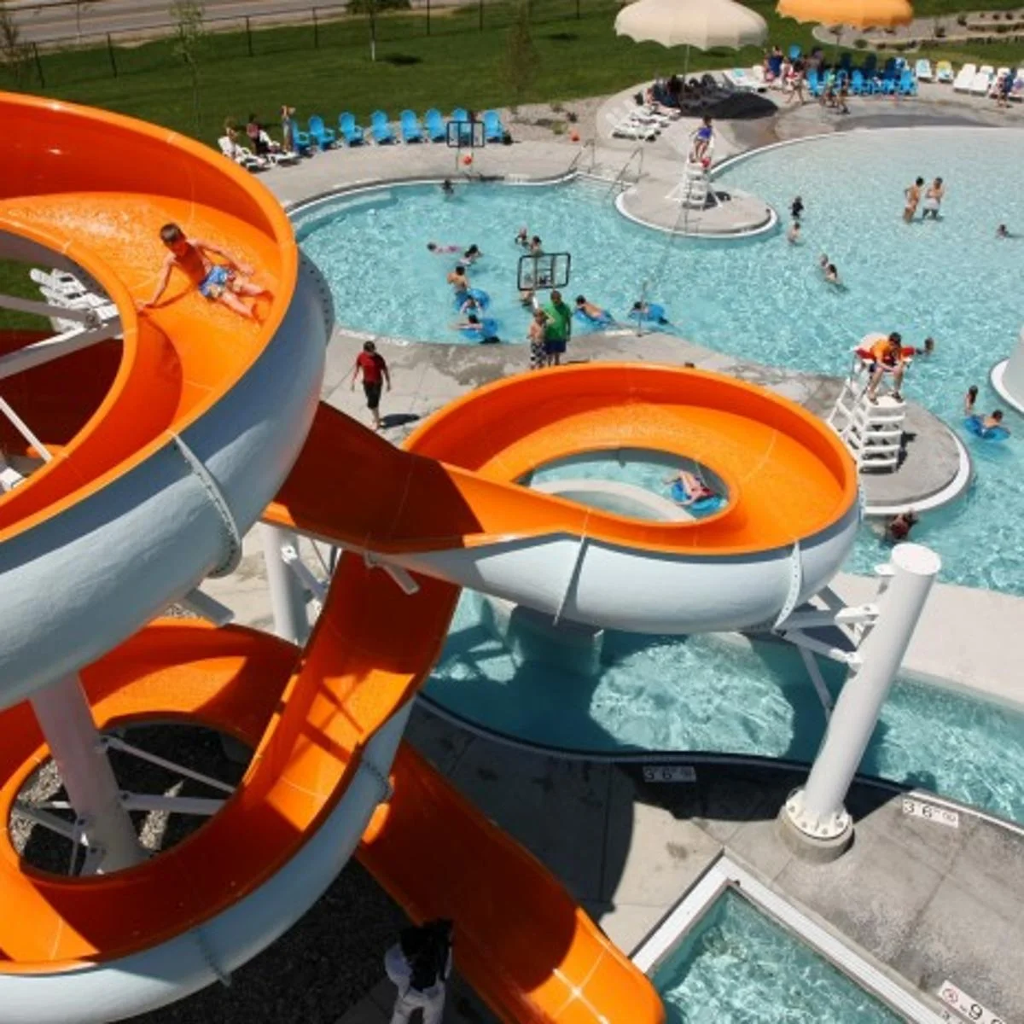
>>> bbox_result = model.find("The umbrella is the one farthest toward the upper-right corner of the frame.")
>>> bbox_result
[778,0,921,63]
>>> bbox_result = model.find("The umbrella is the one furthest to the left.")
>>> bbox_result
[615,0,777,89]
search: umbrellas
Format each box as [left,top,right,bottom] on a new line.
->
[615,0,777,89]
[778,0,921,63]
